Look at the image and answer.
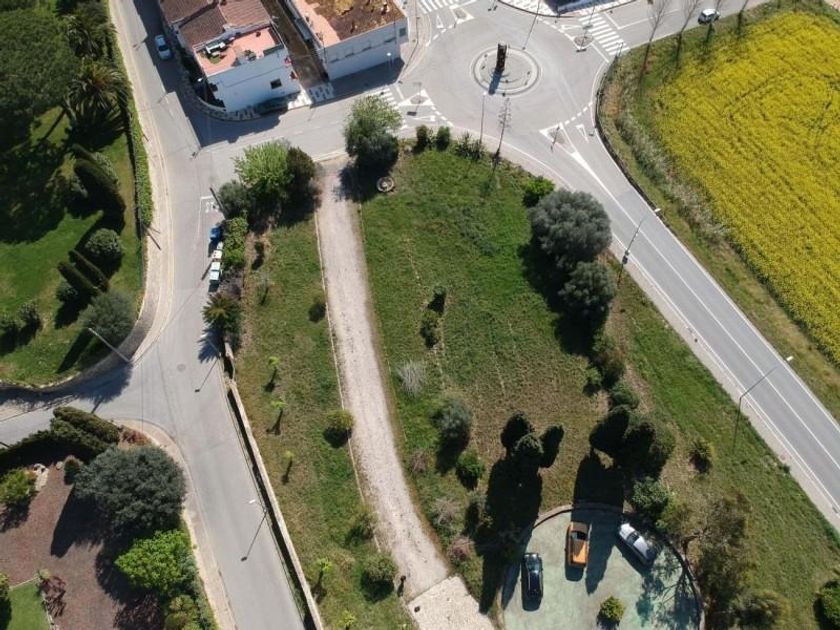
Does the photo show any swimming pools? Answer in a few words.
No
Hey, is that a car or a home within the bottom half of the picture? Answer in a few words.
car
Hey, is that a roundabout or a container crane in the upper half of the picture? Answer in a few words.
roundabout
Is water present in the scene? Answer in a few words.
No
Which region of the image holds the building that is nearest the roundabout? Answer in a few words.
top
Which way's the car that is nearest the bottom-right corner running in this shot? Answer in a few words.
on a diagonal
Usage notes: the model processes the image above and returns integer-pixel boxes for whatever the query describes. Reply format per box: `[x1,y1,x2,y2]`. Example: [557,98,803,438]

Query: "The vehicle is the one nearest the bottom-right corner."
[617,522,658,565]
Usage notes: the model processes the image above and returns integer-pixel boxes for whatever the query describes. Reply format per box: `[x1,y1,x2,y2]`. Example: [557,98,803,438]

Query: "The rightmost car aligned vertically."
[568,523,590,568]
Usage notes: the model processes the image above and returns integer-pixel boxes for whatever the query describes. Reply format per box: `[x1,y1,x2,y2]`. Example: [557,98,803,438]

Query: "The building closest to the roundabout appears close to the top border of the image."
[275,0,409,80]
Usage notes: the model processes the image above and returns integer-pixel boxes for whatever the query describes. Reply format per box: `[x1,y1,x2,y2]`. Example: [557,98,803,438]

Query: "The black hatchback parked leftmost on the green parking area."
[522,553,542,598]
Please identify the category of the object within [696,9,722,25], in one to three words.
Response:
car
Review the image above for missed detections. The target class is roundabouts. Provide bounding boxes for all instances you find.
[421,13,594,136]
